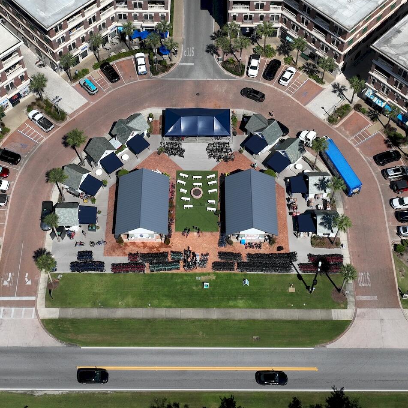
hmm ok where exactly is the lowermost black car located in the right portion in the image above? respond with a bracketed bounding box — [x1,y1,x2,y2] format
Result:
[255,370,288,386]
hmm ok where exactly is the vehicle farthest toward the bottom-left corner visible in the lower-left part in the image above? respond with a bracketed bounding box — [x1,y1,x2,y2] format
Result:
[77,368,110,384]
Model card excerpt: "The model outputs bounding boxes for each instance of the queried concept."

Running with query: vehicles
[390,179,408,193]
[0,195,8,207]
[280,66,295,87]
[0,180,11,193]
[382,165,408,180]
[27,109,55,133]
[390,196,408,210]
[373,150,402,166]
[395,211,408,224]
[280,124,295,142]
[248,54,259,78]
[39,201,52,231]
[77,368,110,384]
[78,77,99,97]
[0,150,23,166]
[264,58,281,81]
[294,131,322,149]
[397,226,408,237]
[0,166,11,180]
[255,370,288,386]
[135,54,148,75]
[99,60,122,84]
[240,87,266,105]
